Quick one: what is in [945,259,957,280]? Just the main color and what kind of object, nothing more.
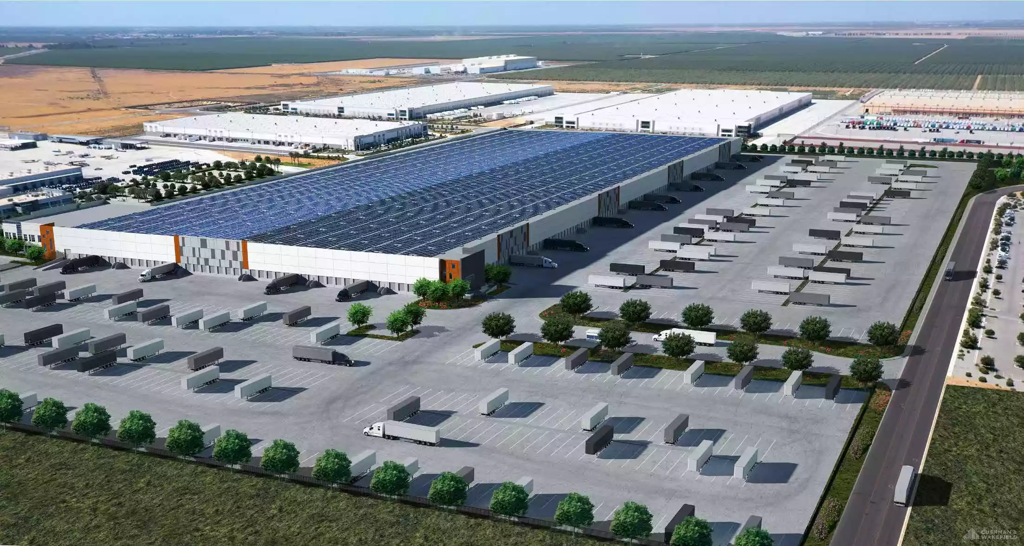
gray vehicle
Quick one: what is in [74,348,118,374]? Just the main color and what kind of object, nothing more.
black trailer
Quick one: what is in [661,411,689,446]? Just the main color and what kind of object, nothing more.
gray trailer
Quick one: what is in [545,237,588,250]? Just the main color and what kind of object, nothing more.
black vehicle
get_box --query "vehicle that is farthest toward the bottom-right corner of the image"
[893,460,917,505]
